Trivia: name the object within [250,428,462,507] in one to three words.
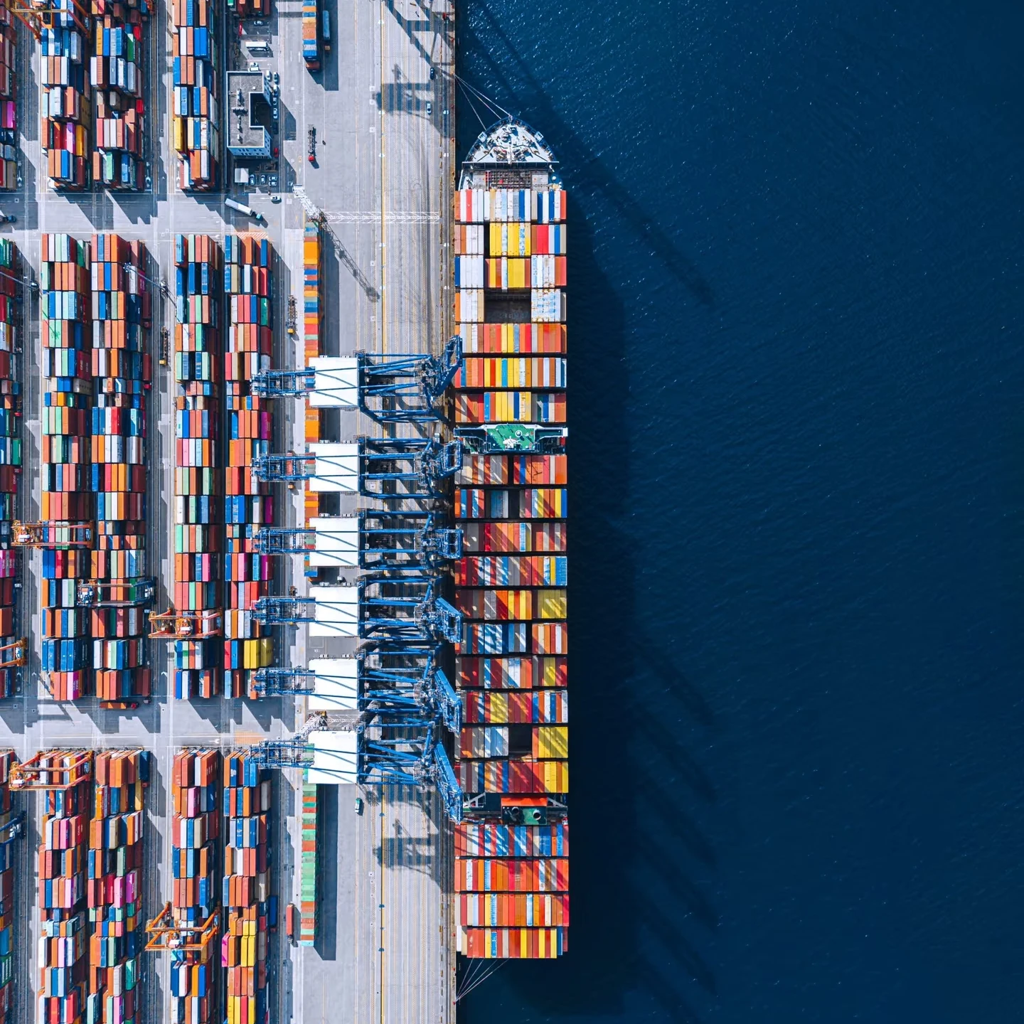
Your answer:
container crane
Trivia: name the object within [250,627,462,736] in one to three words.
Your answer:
container crane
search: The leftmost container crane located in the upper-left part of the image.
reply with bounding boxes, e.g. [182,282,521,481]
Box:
[8,0,93,55]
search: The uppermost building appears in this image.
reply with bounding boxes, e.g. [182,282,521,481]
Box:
[226,71,271,157]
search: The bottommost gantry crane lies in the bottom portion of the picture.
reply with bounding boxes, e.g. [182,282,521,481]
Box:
[144,897,223,951]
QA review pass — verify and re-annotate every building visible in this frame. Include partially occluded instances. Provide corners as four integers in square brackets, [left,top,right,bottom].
[226,71,271,157]
[232,167,248,183]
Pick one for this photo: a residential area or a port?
port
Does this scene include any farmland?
No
